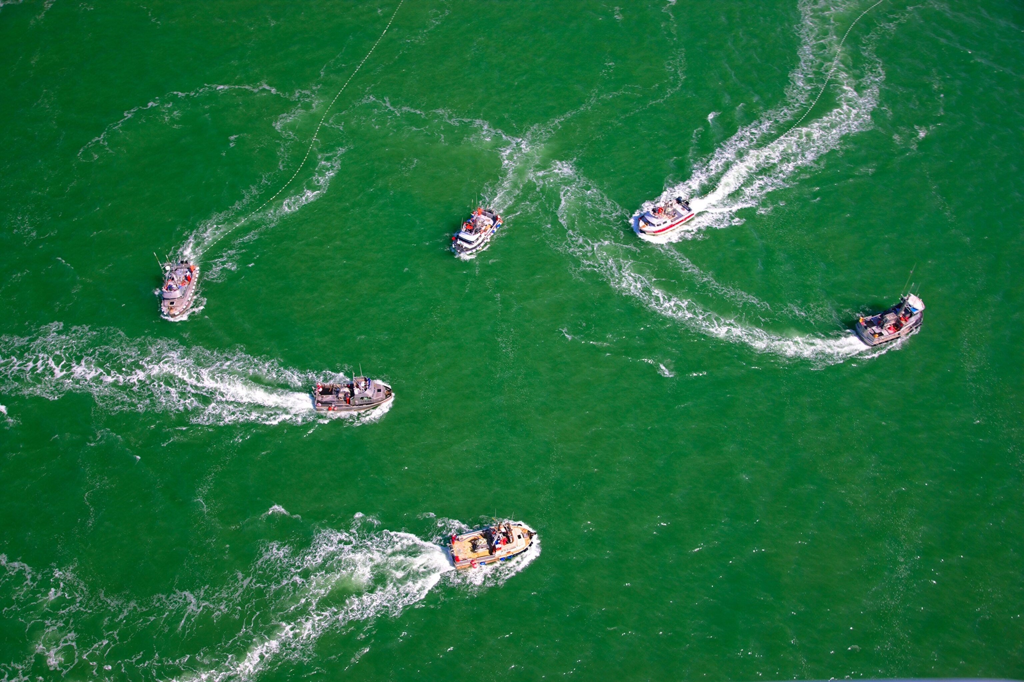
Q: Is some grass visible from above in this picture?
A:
No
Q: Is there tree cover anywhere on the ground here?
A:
No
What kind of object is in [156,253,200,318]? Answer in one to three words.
boat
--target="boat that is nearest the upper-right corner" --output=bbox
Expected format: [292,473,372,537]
[854,272,925,346]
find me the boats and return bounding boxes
[854,272,925,346]
[638,191,693,235]
[156,253,200,318]
[448,516,539,568]
[311,364,391,411]
[455,199,502,255]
